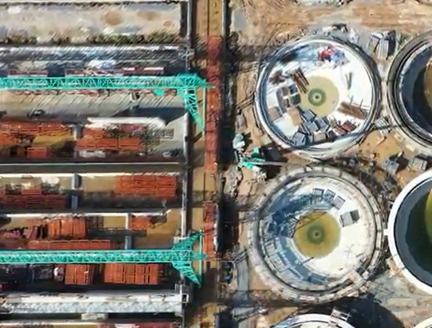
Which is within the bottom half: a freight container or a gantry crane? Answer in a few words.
gantry crane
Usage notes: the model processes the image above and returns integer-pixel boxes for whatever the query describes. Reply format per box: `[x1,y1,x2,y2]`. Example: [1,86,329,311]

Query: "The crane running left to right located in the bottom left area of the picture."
[0,228,208,285]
